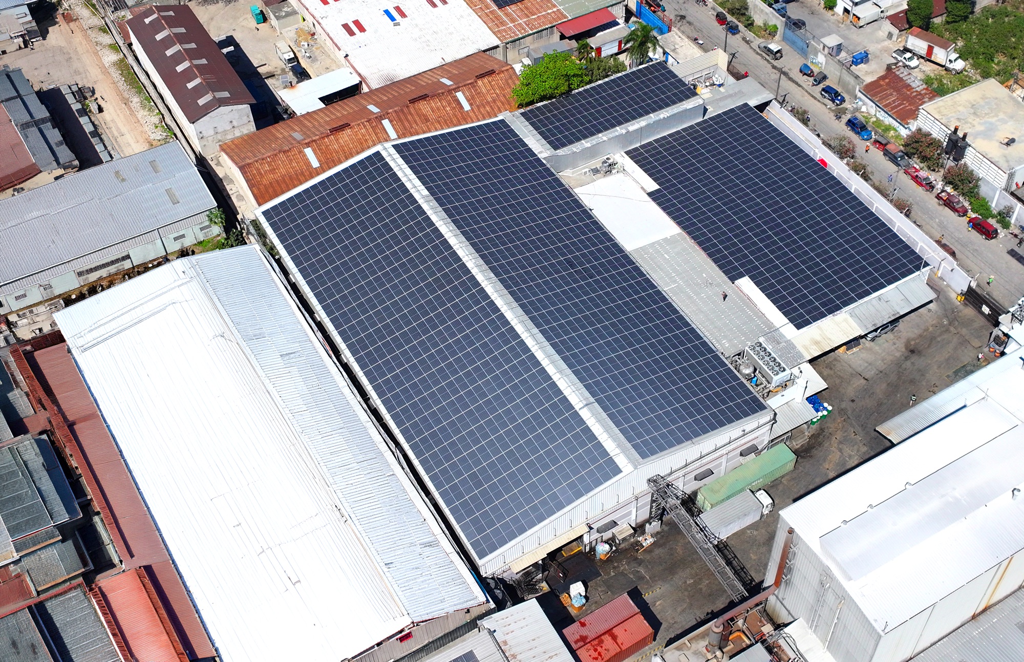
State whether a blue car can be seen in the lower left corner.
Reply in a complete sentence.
No, no blue car can be made out in the lower left corner.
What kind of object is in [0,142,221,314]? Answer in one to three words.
building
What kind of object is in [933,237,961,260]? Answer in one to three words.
car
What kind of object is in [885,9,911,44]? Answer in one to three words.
shed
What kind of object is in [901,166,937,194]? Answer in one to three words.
truck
